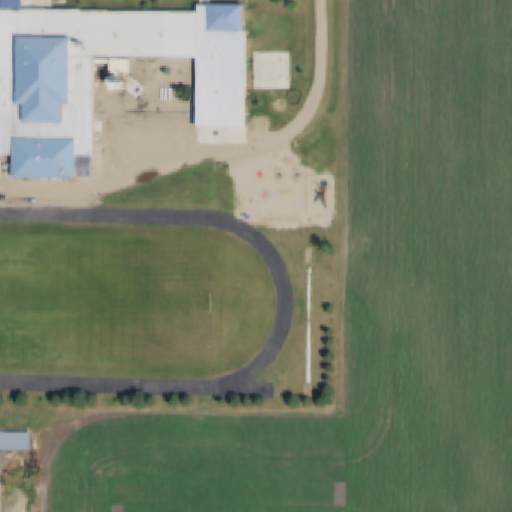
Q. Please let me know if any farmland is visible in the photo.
Yes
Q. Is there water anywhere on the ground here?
No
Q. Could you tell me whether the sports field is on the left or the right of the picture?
left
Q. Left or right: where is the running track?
left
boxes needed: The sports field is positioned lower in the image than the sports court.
[0,218,281,387]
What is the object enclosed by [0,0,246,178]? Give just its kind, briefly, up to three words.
building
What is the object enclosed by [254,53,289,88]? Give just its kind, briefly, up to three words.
sports court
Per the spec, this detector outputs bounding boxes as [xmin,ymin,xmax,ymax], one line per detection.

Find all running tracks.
[0,208,294,398]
